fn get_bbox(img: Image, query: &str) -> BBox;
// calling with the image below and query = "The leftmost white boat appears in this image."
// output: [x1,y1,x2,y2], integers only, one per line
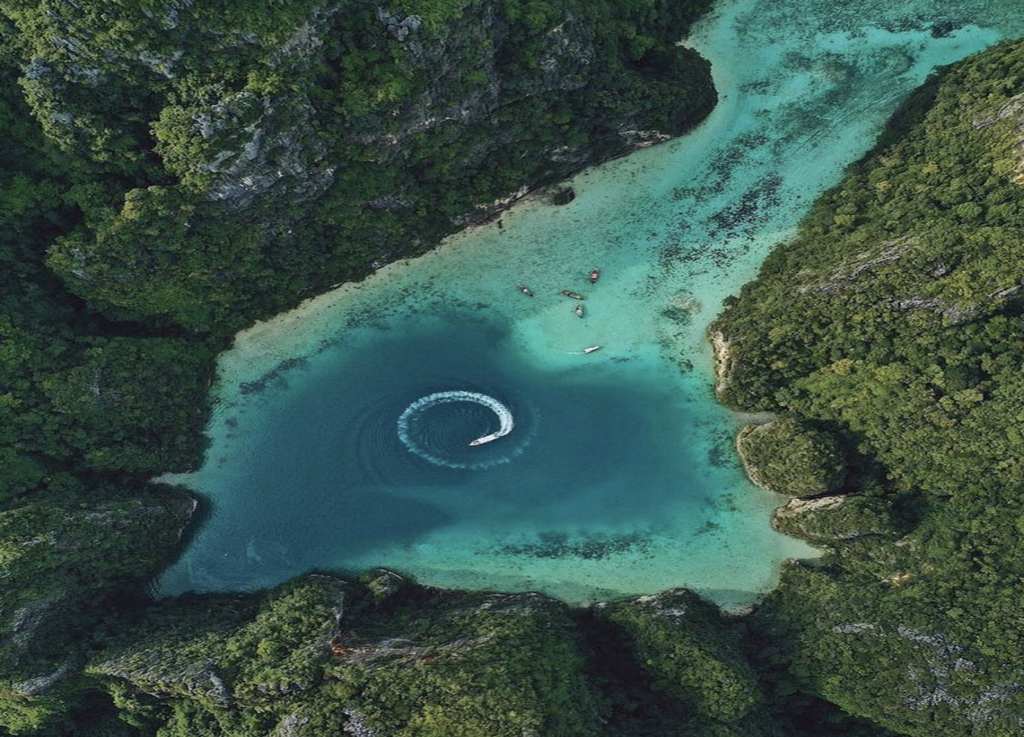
[469,432,500,445]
